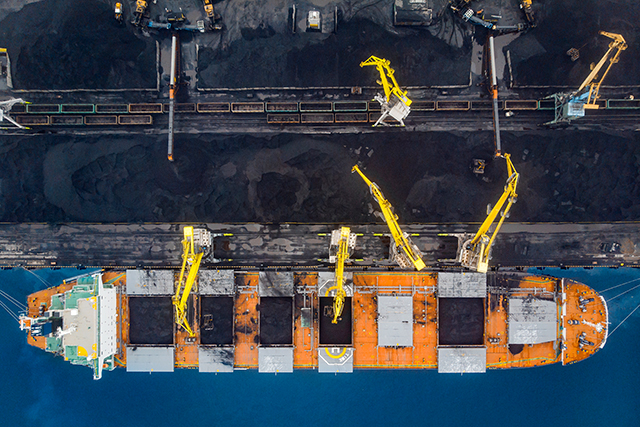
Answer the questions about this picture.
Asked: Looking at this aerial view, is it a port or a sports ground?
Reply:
port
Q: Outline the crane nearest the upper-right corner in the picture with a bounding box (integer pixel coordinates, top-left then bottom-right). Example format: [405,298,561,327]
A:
[539,30,628,125]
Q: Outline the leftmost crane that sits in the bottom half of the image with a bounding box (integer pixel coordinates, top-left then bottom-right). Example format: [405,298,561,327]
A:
[172,227,232,338]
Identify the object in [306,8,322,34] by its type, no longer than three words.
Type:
work vehicle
